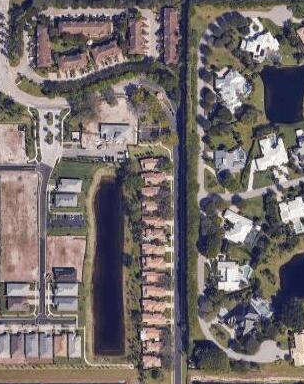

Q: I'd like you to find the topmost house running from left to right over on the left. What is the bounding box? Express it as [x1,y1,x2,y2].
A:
[57,20,112,35]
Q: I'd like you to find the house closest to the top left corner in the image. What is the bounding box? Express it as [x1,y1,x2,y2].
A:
[36,22,52,68]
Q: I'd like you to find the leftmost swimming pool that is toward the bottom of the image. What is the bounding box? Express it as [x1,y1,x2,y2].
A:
[239,262,253,280]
